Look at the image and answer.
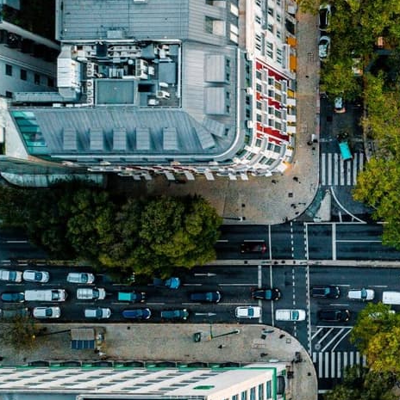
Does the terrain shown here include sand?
No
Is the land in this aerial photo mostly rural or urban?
urban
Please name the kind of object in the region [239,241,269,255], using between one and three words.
vehicle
